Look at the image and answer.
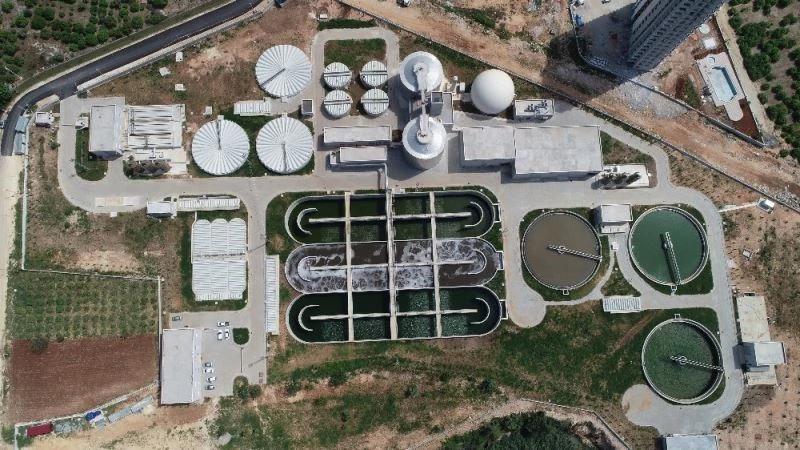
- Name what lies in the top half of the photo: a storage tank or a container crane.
storage tank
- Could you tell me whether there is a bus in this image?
No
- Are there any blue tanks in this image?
No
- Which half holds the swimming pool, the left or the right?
right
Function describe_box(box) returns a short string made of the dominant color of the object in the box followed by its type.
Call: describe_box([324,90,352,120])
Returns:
white storage tank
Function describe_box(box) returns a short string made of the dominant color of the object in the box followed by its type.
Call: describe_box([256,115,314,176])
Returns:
white storage tank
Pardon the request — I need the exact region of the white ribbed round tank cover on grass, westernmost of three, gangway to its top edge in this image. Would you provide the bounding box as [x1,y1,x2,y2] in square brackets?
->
[192,116,252,177]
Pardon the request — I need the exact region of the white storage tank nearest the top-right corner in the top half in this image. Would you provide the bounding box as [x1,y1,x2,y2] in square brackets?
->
[472,70,516,114]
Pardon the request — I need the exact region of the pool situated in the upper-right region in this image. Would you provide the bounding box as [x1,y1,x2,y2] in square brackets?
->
[697,52,744,121]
